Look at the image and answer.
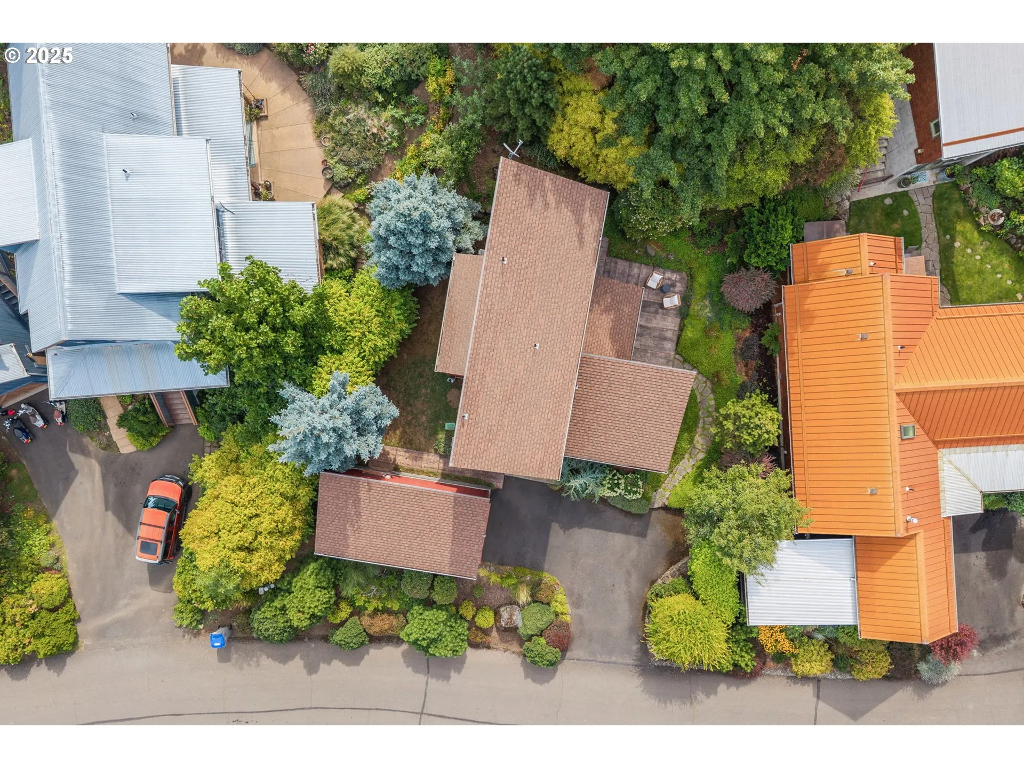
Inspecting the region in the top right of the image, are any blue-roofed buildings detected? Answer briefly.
No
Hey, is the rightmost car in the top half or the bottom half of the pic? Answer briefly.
bottom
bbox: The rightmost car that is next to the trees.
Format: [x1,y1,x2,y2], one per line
[135,473,195,564]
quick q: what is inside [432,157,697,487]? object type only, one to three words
house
